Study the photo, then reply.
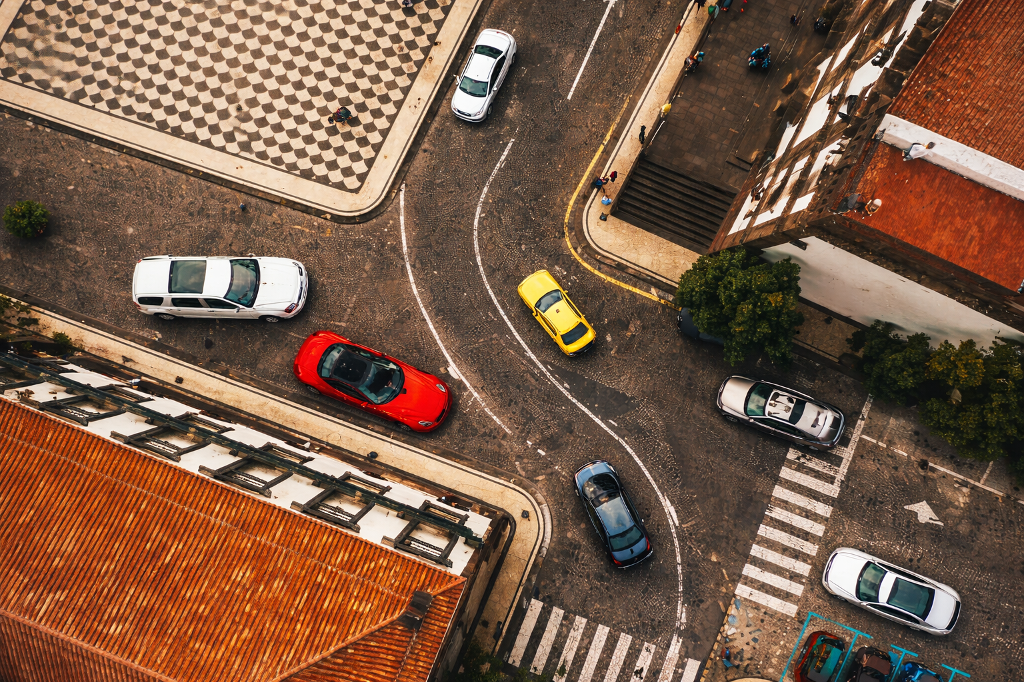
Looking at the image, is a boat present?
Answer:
No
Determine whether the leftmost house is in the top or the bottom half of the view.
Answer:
bottom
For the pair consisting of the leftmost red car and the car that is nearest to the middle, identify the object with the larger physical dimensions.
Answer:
the leftmost red car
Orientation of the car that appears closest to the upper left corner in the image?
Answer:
from left to right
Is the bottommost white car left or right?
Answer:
right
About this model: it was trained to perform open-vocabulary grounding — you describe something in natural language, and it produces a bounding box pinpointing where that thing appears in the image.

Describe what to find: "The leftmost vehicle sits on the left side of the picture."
[128,252,307,322]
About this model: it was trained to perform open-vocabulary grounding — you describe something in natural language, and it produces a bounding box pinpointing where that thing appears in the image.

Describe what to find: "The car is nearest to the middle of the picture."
[521,271,597,357]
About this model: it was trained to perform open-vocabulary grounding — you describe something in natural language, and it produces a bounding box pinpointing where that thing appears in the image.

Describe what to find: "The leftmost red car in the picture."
[299,332,452,428]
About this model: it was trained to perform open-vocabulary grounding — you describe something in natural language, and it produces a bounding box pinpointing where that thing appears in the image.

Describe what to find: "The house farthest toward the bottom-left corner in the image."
[0,325,516,682]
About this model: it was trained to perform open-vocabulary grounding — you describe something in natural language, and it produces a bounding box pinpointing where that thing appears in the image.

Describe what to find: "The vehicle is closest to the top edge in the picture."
[454,29,517,126]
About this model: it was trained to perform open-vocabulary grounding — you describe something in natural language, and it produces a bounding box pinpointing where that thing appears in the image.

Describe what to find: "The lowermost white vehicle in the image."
[818,544,964,638]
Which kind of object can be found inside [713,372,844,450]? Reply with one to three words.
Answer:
car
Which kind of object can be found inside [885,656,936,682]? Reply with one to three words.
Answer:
car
